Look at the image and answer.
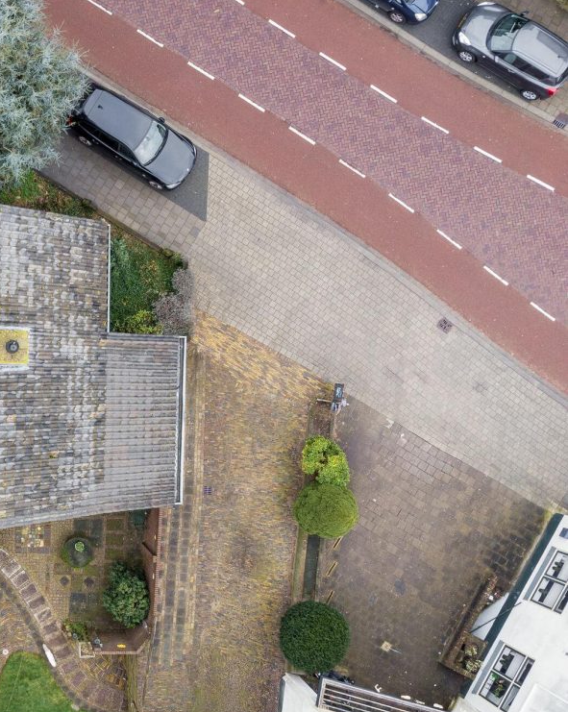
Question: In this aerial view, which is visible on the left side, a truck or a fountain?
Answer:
fountain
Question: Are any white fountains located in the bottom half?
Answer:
No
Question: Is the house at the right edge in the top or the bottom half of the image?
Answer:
bottom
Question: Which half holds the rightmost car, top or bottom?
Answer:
top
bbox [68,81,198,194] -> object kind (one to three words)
car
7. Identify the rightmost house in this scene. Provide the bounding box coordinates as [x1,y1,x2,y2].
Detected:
[444,504,568,712]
